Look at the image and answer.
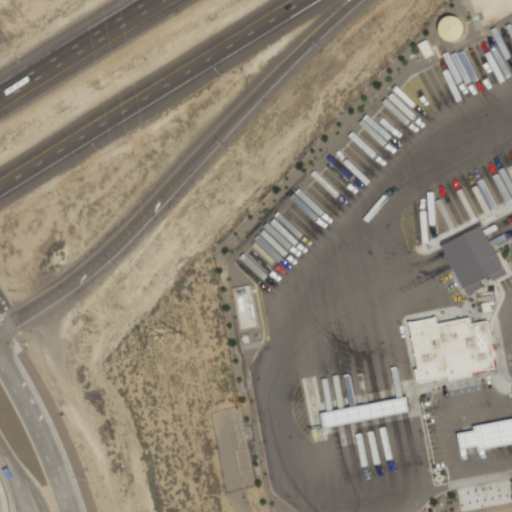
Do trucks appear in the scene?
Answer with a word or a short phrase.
Yes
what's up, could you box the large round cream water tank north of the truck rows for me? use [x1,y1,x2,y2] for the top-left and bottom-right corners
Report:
[436,14,466,44]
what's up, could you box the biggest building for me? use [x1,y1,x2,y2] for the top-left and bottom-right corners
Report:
[408,316,496,384]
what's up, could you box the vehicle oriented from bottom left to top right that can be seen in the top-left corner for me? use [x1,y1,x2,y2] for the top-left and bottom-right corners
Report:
[4,77,31,95]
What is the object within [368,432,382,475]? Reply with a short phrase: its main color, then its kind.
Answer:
white vehicle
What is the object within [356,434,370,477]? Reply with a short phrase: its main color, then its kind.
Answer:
white vehicle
